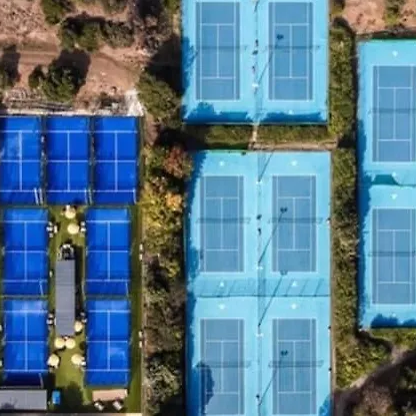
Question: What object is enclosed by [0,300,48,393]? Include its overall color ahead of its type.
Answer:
blue sports court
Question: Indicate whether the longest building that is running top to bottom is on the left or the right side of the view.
left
